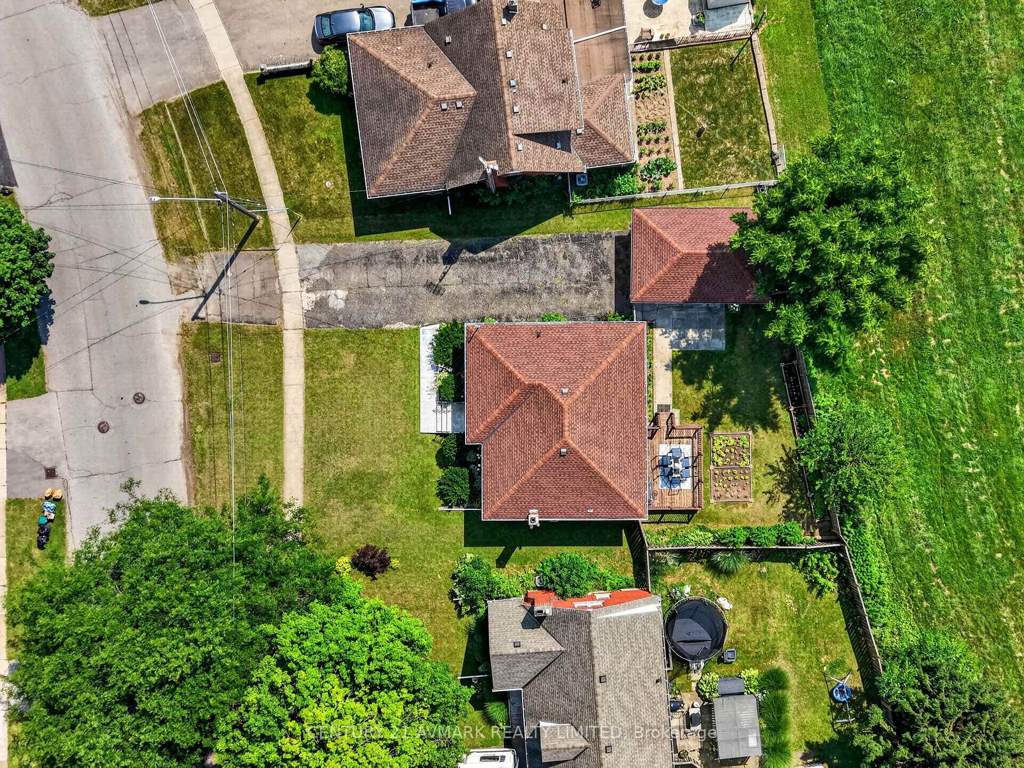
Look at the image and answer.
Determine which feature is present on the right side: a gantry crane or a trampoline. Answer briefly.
trampoline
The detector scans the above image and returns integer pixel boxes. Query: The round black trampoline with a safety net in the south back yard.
[668,595,728,662]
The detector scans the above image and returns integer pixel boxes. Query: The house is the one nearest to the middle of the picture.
[466,322,648,525]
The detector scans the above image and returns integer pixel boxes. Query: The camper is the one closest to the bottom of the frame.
[462,741,518,768]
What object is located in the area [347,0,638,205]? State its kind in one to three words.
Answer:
house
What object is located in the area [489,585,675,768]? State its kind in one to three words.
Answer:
house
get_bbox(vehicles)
[408,0,469,26]
[462,741,518,768]
[313,5,396,49]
